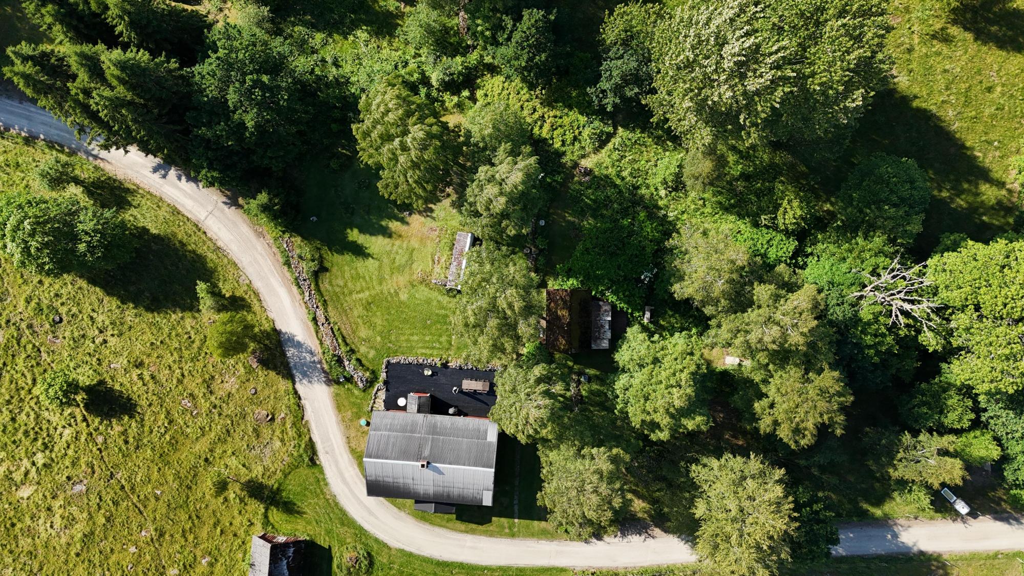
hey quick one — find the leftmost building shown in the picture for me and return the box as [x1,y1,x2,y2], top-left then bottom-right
[248,532,304,576]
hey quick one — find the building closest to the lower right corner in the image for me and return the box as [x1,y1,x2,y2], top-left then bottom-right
[546,288,612,354]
